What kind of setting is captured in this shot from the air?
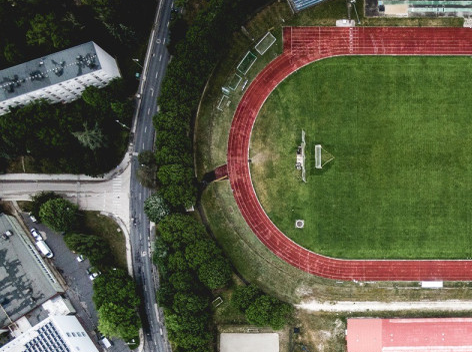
sports ground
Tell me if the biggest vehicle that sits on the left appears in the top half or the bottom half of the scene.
bottom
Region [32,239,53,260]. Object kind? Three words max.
vehicle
